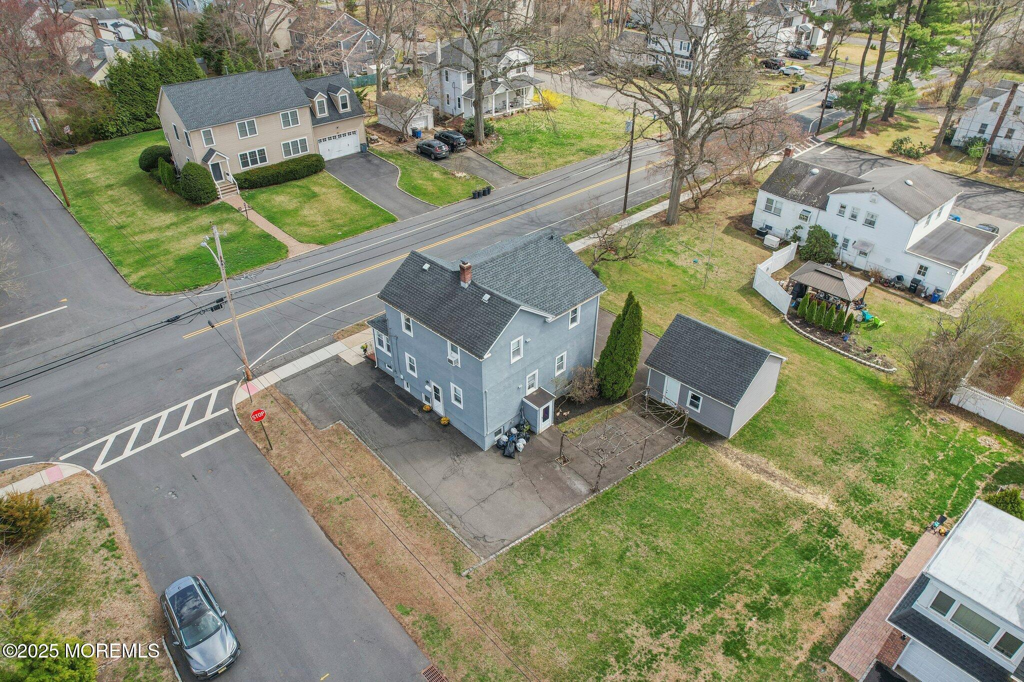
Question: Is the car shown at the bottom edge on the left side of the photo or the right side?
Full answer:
The car shown at the bottom edge sits on the left side.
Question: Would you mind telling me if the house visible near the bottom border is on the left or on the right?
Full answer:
You can find the house visible near the bottom border on the right side of the picture.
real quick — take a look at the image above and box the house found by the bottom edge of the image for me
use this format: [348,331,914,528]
[877,496,1024,682]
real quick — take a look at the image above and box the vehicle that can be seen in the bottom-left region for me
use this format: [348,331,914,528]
[159,577,245,682]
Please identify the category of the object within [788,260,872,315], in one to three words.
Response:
gazebo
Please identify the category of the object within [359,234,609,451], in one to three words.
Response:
house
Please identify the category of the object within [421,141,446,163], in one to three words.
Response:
car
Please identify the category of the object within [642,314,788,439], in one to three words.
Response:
building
